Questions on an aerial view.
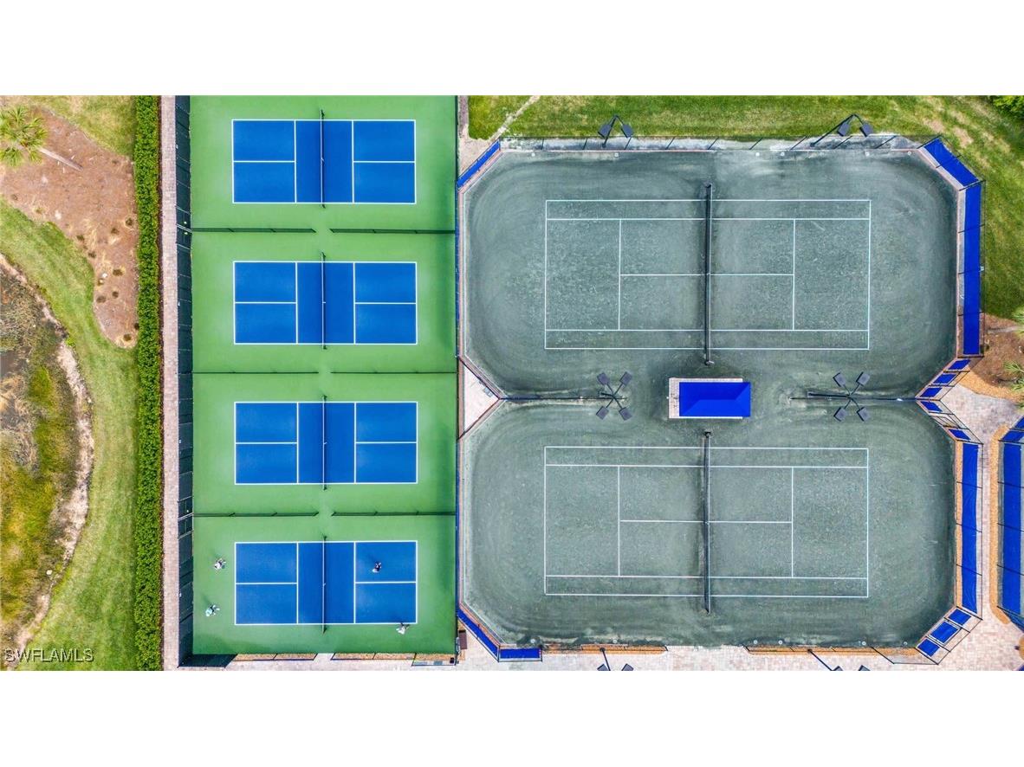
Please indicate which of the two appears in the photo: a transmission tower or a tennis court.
tennis court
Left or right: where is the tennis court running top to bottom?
right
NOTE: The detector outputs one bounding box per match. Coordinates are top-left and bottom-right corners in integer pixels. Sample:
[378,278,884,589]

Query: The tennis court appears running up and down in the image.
[999,417,1024,619]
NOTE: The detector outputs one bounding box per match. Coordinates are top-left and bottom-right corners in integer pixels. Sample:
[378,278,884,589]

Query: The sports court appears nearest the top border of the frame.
[189,90,453,229]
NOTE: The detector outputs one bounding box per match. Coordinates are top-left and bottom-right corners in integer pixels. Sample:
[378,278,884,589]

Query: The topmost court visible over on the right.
[460,148,960,398]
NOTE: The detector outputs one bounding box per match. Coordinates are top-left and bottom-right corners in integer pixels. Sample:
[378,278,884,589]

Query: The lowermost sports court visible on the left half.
[192,514,454,654]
